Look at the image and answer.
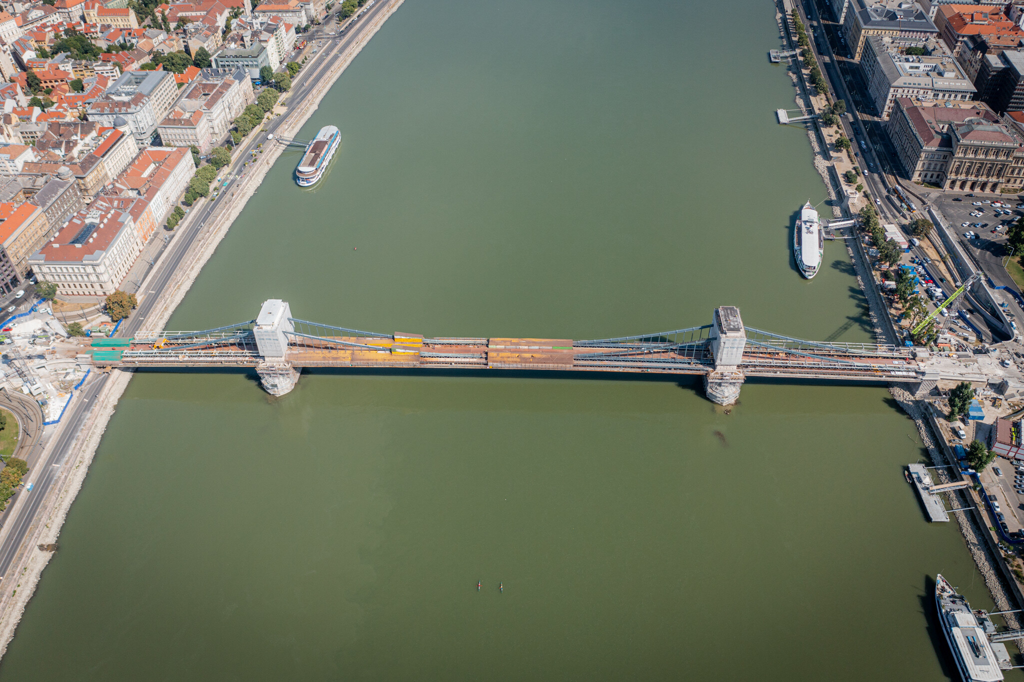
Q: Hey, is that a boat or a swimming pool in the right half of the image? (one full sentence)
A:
The one visible in the right half of the image is a boat.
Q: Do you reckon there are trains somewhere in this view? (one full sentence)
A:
Yes, there's a train down there.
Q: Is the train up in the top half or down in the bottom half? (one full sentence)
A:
Seen from above, the train lies in the top half of the view.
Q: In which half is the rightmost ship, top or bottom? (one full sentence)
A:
Seen from above, the rightmost ship lies in the bottom half of the view.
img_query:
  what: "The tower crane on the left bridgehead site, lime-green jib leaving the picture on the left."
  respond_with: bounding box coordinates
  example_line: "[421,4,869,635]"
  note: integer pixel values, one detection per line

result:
[0,329,52,395]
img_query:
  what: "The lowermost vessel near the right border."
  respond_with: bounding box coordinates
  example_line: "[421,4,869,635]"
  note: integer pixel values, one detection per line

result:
[933,569,1005,682]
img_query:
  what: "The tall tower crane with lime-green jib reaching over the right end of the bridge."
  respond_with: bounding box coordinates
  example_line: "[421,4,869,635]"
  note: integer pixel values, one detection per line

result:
[912,272,985,345]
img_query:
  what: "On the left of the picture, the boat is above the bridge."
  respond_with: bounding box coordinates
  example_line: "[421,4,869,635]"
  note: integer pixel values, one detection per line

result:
[297,124,342,188]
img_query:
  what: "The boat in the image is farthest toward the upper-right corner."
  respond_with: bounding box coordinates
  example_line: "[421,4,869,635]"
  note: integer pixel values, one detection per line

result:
[794,200,824,282]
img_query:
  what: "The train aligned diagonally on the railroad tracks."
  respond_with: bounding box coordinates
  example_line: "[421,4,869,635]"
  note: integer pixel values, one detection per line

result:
[893,185,919,212]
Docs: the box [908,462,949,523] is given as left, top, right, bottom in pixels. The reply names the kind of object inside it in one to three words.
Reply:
pier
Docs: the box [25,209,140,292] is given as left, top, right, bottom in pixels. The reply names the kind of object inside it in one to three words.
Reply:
building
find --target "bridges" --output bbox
[90,298,928,410]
